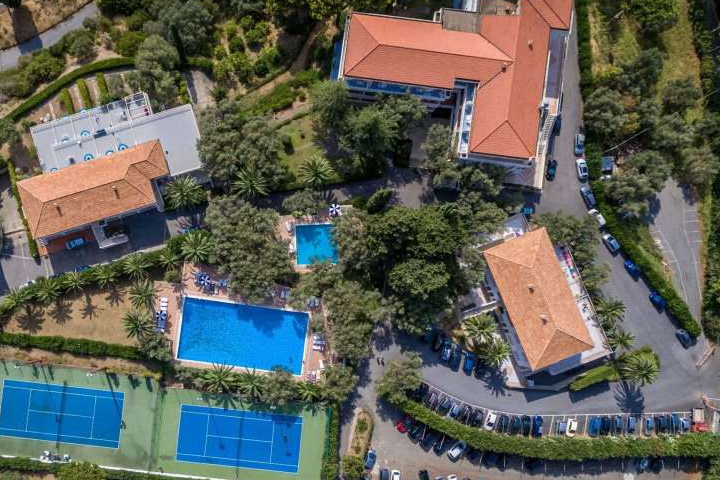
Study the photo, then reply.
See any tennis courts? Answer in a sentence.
Yes, there's a tennis court down there.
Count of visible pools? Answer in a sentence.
Looking from above, you can make out 2 pools.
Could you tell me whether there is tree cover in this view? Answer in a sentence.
Yes, there is tree cover in the image.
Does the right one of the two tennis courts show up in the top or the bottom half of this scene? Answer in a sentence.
It is in the bottom half that the right one of the two tennis courts appears.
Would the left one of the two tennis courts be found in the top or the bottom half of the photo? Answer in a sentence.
Seen from above, the left one of the two tennis courts lies in the bottom half of the view.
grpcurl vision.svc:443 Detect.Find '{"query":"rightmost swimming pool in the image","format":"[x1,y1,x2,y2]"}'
[278,204,357,280]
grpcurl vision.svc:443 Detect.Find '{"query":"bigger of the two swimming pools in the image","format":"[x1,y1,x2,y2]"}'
[154,260,332,384]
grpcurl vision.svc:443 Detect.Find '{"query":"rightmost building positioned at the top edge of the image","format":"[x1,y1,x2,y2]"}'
[329,0,575,192]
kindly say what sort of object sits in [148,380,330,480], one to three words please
tennis court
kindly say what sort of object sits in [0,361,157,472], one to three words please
tennis court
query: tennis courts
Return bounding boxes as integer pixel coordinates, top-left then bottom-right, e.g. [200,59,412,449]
[148,380,330,480]
[0,361,157,472]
